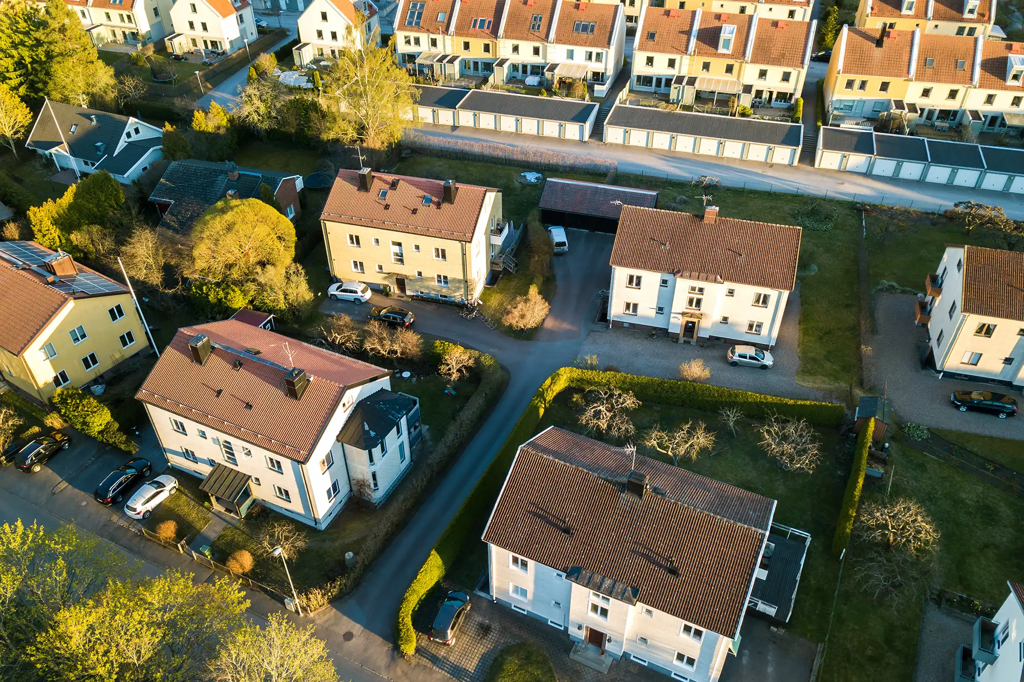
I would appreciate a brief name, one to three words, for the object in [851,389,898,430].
shed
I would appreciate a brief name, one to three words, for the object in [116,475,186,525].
car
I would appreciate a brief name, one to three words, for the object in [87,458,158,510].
car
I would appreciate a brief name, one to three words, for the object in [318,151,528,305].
house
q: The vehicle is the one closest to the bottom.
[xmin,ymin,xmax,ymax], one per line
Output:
[428,591,474,651]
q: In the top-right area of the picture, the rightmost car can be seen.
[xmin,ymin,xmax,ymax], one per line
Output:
[816,48,835,62]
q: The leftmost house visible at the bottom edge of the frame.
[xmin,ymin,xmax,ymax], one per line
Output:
[471,426,777,682]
